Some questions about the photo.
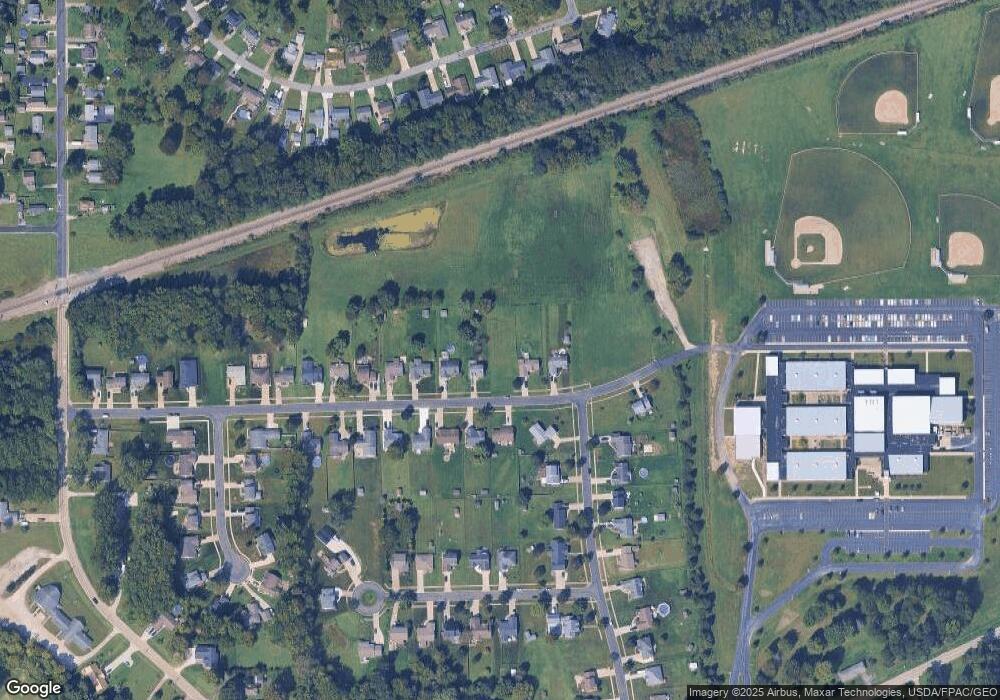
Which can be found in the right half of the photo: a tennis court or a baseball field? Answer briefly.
baseball field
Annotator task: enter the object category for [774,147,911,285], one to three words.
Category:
baseball field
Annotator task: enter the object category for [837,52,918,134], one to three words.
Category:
baseball field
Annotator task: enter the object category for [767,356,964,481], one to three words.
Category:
building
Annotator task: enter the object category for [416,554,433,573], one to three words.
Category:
house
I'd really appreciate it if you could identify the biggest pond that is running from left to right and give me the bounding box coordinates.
[324,201,448,259]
